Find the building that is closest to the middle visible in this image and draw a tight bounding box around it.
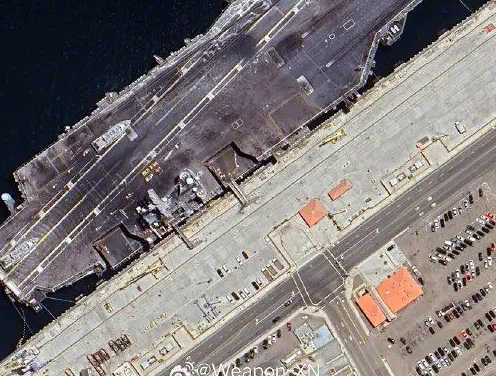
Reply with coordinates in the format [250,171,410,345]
[299,198,328,226]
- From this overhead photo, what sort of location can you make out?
port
